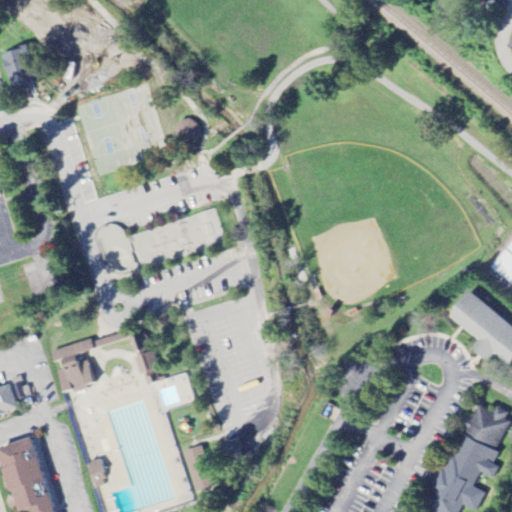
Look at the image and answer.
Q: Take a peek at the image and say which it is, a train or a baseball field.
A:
baseball field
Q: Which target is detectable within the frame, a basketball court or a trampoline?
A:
basketball court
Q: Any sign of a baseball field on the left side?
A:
No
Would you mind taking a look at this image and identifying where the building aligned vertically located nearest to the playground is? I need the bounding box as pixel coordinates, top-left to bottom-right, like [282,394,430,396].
[184,445,208,494]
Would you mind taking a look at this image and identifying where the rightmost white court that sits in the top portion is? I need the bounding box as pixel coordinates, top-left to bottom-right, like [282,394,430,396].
[112,82,165,163]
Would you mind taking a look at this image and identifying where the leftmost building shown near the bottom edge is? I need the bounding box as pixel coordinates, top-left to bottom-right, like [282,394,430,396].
[0,438,56,512]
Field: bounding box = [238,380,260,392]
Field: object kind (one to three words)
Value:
vehicle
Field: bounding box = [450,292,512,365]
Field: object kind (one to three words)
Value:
building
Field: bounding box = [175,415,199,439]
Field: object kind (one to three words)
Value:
playground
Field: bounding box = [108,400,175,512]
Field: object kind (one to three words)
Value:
swimming pool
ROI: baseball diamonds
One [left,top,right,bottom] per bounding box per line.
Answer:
[314,218,396,304]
